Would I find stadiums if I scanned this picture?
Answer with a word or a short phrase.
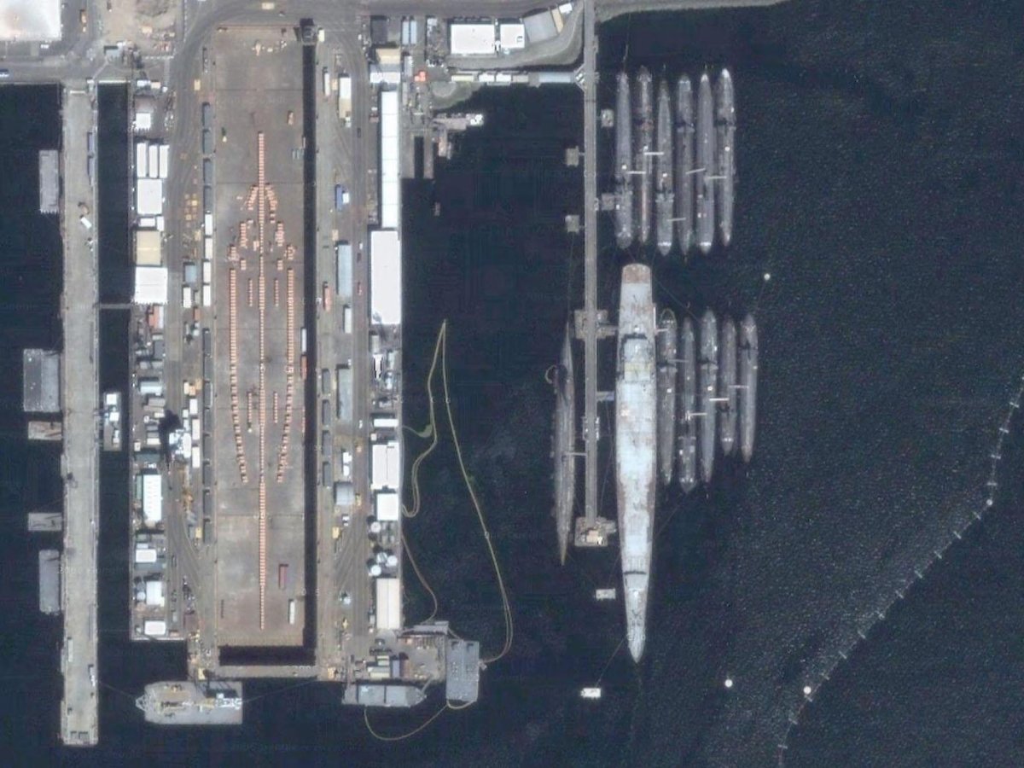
No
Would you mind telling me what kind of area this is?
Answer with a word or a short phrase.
port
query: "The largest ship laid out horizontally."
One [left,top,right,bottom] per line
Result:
[136,682,243,724]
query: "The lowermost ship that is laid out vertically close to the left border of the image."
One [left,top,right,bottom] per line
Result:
[39,550,60,614]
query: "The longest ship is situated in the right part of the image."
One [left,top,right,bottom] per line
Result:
[617,263,656,663]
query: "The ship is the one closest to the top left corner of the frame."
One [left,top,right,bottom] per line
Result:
[40,150,59,214]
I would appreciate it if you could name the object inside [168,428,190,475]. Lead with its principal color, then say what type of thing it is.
white crane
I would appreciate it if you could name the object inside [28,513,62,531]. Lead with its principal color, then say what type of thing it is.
gray ship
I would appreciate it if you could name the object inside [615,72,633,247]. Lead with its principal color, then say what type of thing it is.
gray ship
